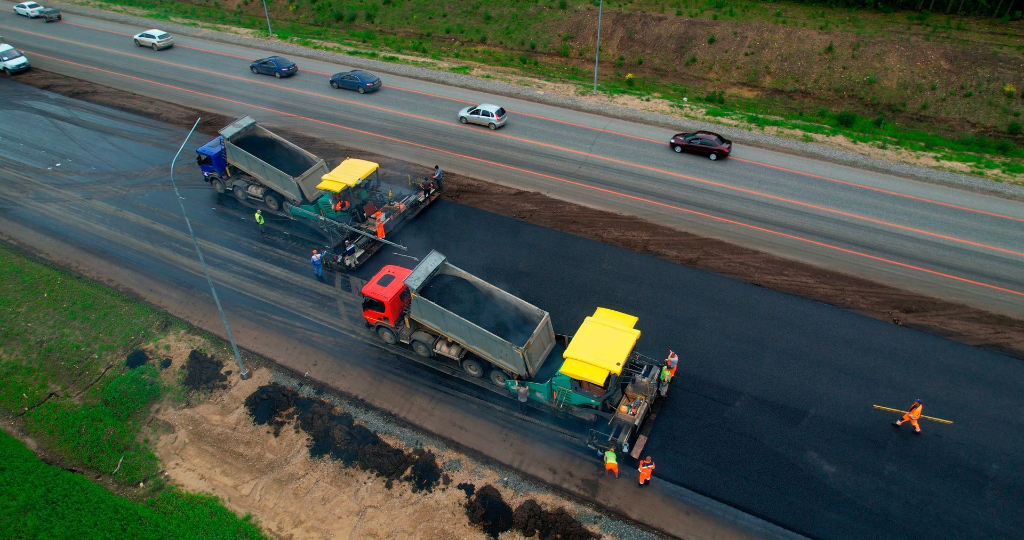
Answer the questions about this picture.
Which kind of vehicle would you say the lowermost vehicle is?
truck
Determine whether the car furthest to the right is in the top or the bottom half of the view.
top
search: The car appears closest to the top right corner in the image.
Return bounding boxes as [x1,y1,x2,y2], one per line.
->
[665,127,734,158]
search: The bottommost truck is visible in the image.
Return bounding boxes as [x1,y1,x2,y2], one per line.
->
[356,247,563,386]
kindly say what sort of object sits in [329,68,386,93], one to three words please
car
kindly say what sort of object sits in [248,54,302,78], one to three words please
car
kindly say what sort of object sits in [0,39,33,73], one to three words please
vehicle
